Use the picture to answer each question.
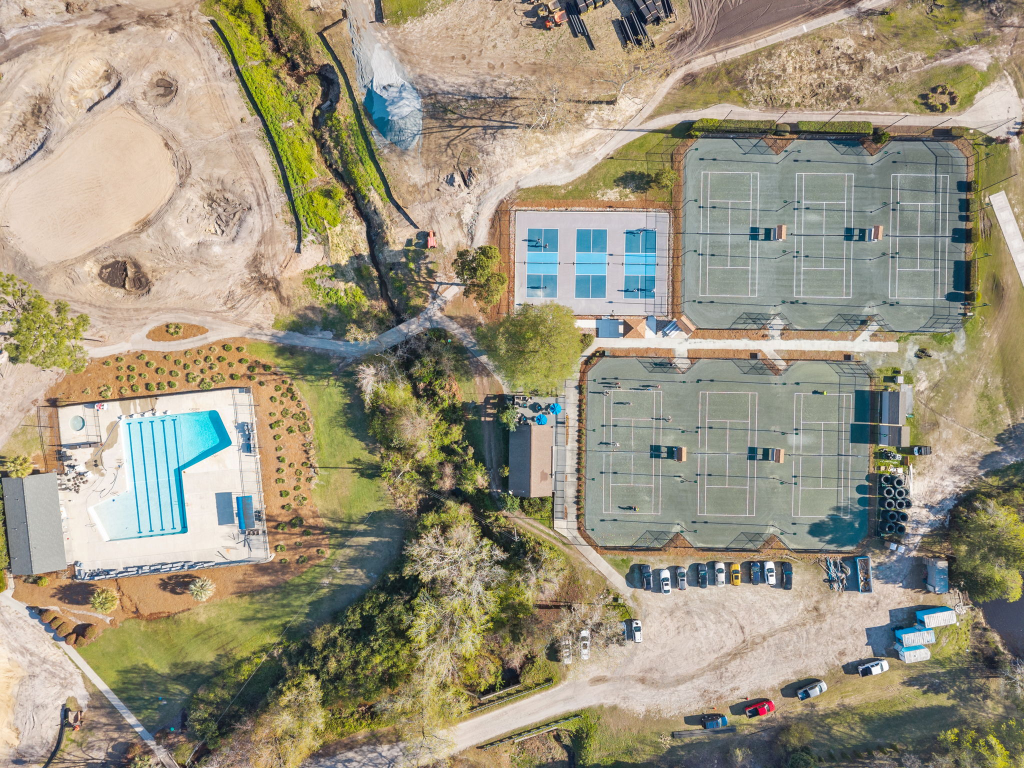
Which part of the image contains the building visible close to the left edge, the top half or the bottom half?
bottom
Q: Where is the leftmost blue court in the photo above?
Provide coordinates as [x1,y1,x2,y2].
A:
[526,228,559,298]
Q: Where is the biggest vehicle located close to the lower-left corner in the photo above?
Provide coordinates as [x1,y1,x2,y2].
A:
[65,711,82,732]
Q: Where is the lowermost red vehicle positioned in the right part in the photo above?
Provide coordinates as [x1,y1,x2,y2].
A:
[743,698,775,717]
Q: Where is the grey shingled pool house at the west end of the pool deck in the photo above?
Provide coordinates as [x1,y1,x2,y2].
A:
[1,472,72,575]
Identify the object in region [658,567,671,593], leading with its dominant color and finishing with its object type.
white vehicle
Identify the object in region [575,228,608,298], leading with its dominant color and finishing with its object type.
blue sports court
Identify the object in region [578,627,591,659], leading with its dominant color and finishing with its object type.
white vehicle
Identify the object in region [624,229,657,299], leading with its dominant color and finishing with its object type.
blue sports court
